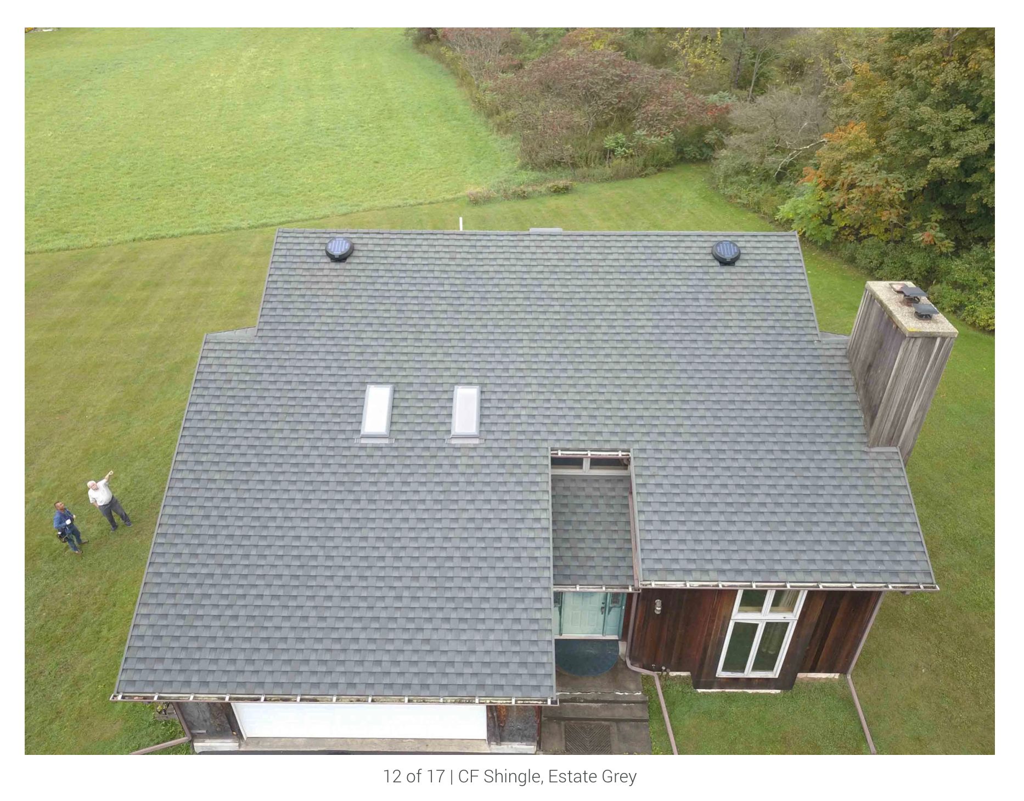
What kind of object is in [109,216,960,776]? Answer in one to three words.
house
